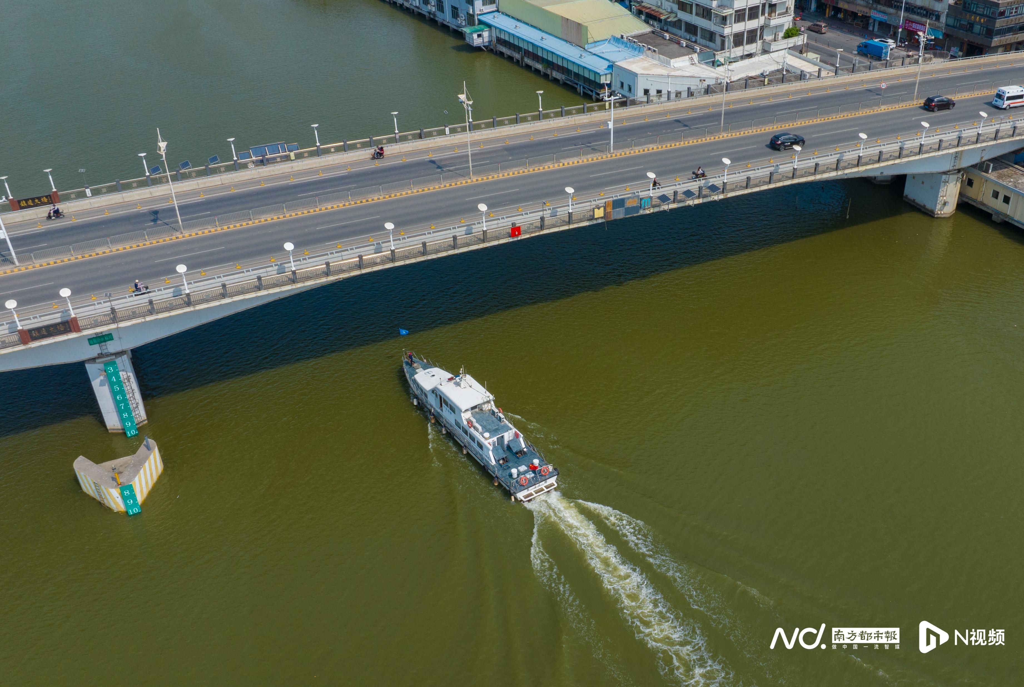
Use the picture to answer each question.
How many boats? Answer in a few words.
1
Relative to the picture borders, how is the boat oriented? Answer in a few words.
at an angle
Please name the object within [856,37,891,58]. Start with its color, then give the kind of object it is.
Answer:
blue truck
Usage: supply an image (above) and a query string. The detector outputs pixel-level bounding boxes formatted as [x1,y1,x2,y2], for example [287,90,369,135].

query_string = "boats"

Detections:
[397,327,561,507]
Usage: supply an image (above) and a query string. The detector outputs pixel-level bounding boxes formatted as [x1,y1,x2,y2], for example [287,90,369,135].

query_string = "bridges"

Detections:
[0,50,1024,433]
